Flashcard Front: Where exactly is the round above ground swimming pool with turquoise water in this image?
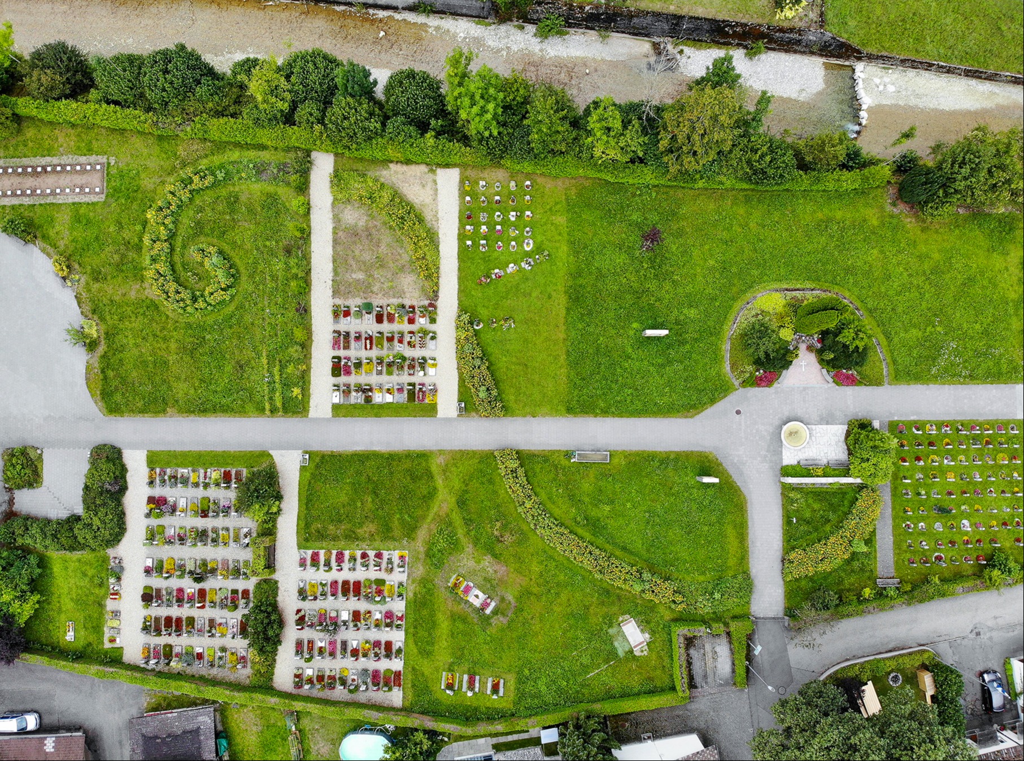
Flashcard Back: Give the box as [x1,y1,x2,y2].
[340,728,394,761]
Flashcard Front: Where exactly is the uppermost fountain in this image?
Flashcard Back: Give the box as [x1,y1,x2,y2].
[780,421,810,449]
